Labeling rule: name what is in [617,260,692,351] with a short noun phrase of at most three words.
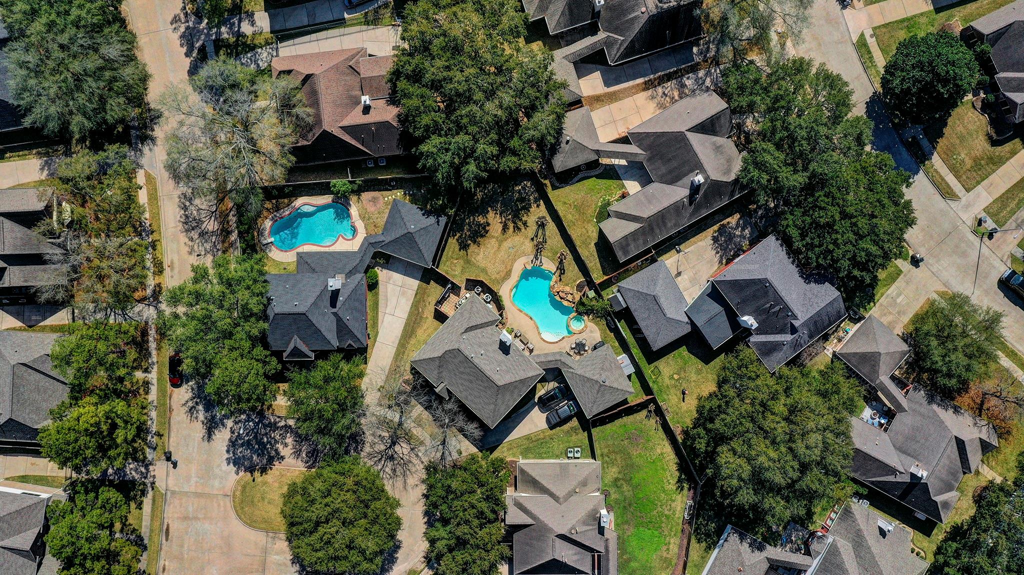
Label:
building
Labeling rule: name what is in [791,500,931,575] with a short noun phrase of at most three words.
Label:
house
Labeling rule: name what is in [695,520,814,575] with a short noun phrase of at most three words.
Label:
house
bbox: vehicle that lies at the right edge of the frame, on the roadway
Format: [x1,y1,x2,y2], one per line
[1004,270,1024,292]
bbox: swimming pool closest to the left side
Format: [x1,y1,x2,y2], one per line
[268,200,360,253]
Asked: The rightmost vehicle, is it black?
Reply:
Yes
